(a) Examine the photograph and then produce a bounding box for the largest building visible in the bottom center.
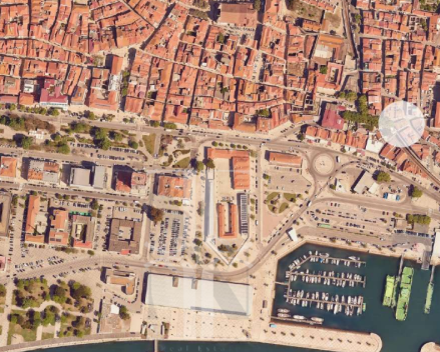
[146,273,249,317]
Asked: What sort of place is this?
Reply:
residential area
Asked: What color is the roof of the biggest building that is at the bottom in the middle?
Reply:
white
